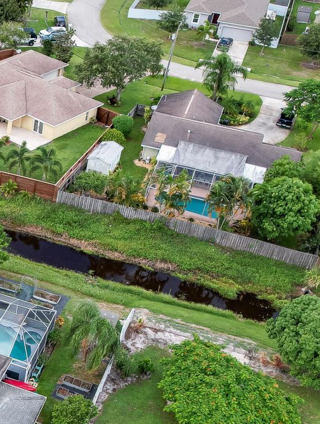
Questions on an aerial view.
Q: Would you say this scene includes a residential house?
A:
Yes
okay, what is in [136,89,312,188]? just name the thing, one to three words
house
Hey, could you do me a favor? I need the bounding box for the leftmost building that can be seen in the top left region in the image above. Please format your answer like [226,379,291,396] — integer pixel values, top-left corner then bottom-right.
[0,50,104,142]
